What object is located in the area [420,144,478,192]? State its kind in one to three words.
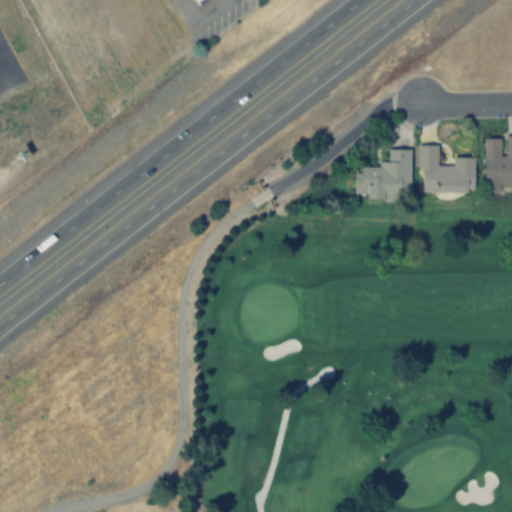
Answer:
house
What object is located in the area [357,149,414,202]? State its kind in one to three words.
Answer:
house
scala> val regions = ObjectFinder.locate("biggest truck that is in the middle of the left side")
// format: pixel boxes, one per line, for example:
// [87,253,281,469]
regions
[24,236,57,264]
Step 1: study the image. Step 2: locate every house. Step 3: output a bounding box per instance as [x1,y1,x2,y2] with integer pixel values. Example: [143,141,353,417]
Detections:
[420,144,478,192]
[486,136,512,192]
[357,149,414,202]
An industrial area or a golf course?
golf course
